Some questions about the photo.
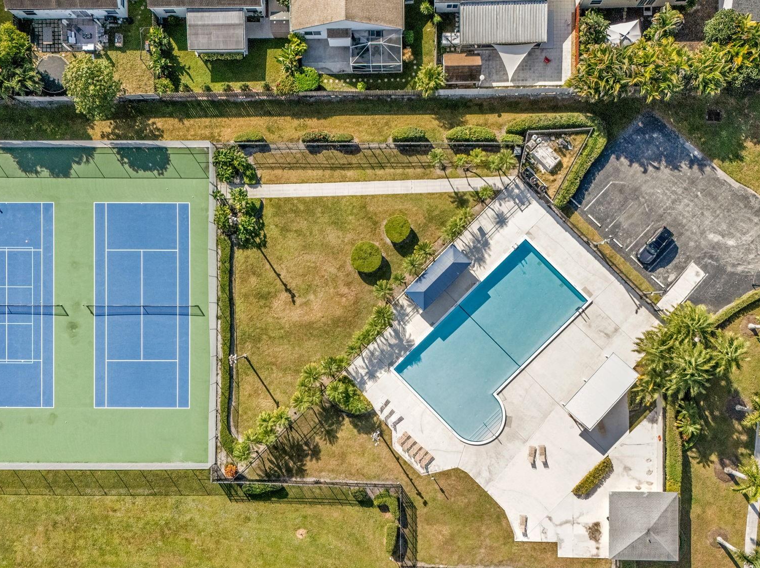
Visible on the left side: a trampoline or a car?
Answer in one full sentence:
You can see a trampoline on the left side.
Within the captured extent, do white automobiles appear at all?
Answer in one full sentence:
No, no white automobile is visible in the view.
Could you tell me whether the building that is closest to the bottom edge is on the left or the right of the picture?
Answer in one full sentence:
You can find the building that is closest to the bottom edge on the right side of the picture.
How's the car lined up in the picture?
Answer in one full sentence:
In this picture, the car is oriented on a diagonal.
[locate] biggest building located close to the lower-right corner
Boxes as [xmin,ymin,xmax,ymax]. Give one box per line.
[606,490,679,561]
